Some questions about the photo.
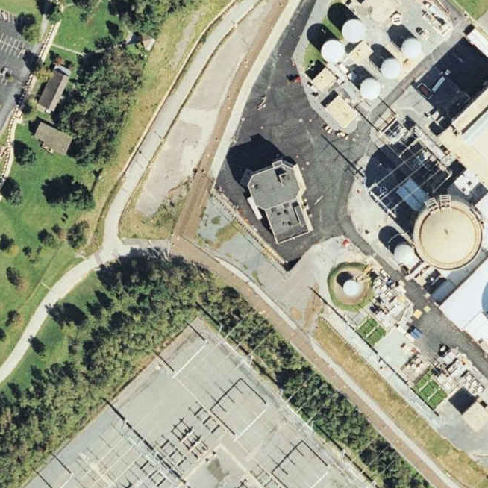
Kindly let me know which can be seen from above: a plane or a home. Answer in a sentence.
It is a home that can be seen here.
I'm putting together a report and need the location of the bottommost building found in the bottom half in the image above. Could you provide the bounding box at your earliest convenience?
[463,398,488,431]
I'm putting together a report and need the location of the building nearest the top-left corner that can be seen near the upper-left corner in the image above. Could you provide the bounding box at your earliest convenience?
[38,64,71,111]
